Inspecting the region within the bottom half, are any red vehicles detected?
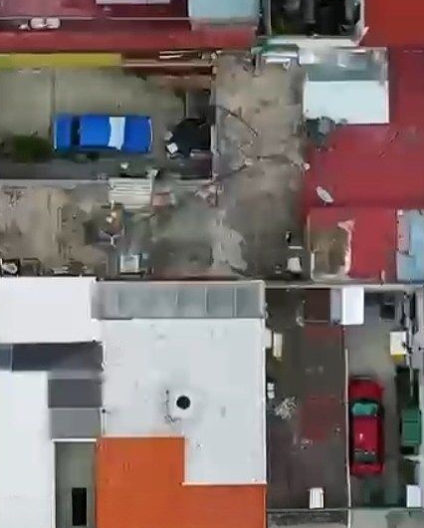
Yes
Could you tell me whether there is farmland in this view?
No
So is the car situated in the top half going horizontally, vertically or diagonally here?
horizontally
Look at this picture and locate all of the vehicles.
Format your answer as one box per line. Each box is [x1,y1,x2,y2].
[347,377,387,479]
[51,111,154,155]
